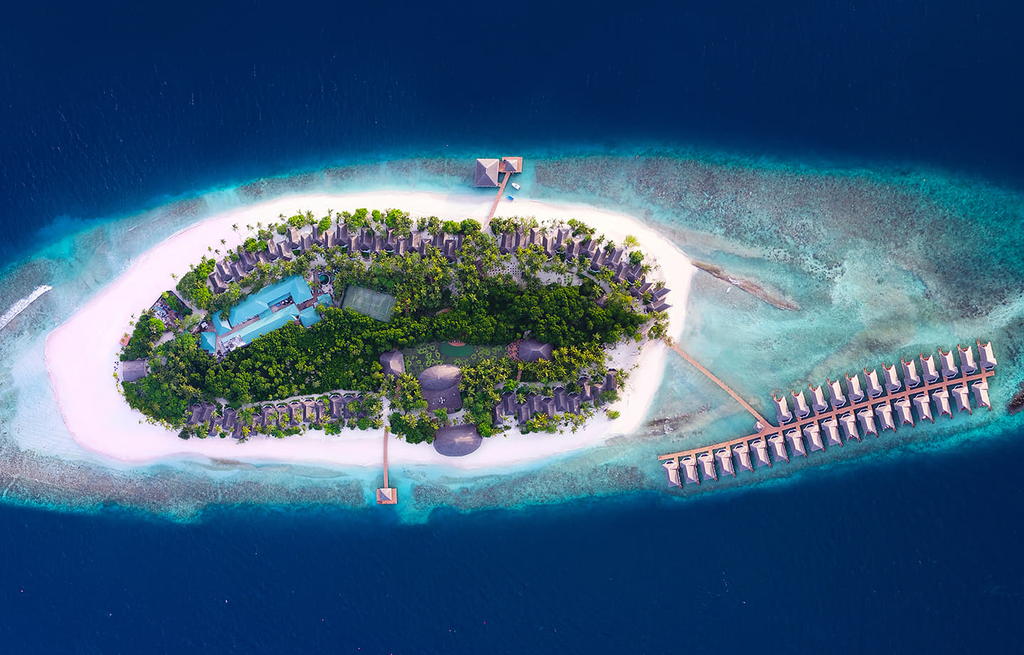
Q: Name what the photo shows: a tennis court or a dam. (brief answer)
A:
tennis court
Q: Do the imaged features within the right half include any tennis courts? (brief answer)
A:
No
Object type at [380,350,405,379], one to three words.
building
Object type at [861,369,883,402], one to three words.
house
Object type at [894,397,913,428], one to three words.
house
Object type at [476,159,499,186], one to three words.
building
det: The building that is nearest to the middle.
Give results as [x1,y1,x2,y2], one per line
[517,339,554,362]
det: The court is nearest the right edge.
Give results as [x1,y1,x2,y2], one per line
[342,285,396,321]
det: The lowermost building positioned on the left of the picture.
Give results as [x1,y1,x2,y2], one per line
[377,488,397,504]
